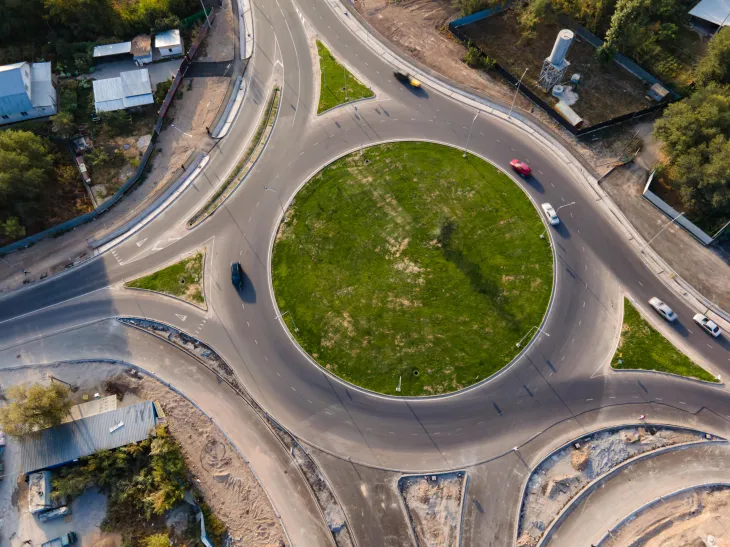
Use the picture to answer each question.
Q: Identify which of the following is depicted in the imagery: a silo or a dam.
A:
silo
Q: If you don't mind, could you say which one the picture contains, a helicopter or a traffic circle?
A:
traffic circle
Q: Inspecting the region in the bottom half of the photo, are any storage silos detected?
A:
No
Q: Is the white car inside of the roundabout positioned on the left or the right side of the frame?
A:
right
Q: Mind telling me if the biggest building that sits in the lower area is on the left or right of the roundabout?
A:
left of it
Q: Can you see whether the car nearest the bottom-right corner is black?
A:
No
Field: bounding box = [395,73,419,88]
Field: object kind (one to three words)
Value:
vehicle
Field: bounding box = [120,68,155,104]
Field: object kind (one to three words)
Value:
house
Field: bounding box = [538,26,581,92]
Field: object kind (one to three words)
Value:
silo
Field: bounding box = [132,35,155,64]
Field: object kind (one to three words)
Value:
shed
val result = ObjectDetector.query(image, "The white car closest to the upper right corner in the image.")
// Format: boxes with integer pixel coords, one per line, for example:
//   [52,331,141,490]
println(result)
[540,204,561,226]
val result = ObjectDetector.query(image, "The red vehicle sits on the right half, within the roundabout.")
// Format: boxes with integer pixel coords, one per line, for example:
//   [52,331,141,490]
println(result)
[508,159,532,178]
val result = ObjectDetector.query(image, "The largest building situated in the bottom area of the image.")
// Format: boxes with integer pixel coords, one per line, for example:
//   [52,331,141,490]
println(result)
[22,402,159,473]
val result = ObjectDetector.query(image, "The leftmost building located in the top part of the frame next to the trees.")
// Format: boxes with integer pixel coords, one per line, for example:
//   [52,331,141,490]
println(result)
[0,61,58,128]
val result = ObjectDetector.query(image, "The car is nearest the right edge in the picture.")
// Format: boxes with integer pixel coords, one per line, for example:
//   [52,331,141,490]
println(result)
[691,314,723,337]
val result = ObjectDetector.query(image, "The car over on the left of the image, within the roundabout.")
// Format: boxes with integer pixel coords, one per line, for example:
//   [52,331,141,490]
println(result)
[230,262,245,290]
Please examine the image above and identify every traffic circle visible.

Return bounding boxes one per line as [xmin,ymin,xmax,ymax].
[212,99,616,466]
